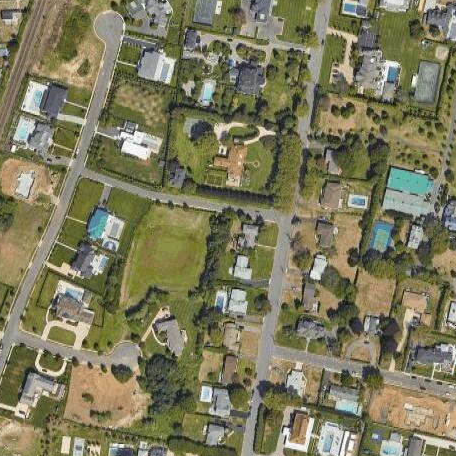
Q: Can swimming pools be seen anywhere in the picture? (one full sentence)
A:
Yes, the picture does show a swimming pool.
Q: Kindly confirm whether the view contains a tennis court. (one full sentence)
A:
Yes, there is a tennis court in the image.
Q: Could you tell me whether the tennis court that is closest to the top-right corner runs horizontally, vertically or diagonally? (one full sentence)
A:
I'd say the tennis court that is closest to the top-right corner is aligned vertically in the picture.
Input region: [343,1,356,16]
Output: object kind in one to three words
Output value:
swimming pool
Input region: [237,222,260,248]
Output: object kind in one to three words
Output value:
house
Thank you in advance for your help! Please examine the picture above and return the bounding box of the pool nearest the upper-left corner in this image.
[21,84,45,115]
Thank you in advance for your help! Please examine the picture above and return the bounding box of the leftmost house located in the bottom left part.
[20,372,65,408]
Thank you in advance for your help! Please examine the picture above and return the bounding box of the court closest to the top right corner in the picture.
[415,61,439,103]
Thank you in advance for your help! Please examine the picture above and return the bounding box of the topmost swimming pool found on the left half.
[159,57,177,84]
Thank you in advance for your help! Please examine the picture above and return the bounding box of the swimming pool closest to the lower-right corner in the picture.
[381,441,404,456]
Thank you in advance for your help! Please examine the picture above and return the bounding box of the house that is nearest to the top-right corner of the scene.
[431,1,456,31]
